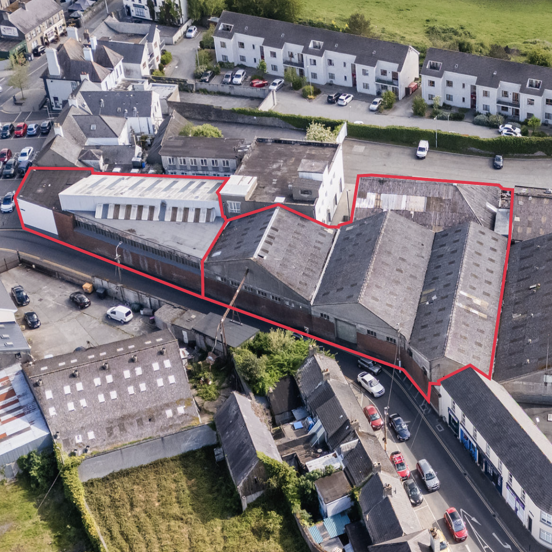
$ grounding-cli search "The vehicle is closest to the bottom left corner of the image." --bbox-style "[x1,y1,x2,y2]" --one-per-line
[22,308,43,331]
